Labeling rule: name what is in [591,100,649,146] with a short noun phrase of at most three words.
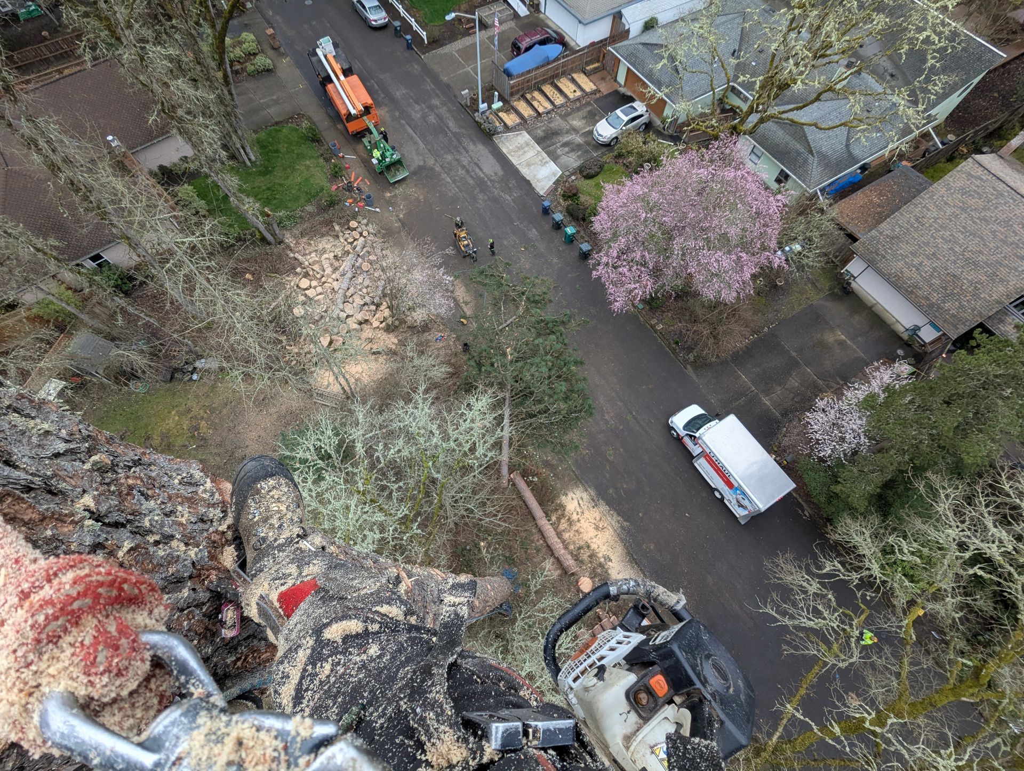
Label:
car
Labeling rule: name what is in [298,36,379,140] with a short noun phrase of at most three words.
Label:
truck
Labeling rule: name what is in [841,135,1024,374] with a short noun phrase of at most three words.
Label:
house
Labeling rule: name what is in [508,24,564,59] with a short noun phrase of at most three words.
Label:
vehicle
